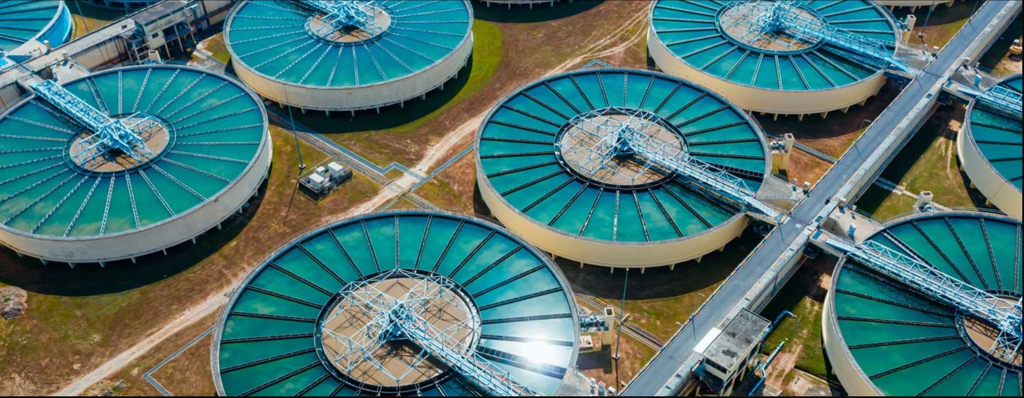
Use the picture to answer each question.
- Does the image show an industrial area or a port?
industrial area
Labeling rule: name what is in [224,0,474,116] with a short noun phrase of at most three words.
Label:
storage tank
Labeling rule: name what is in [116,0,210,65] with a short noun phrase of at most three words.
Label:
building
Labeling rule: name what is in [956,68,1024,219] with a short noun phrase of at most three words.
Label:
storage tank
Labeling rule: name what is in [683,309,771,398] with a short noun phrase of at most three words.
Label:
building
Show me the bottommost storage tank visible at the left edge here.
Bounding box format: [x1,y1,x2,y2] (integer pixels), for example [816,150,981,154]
[0,61,273,270]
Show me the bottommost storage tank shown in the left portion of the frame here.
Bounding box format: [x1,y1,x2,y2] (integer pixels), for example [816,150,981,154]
[211,205,581,398]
